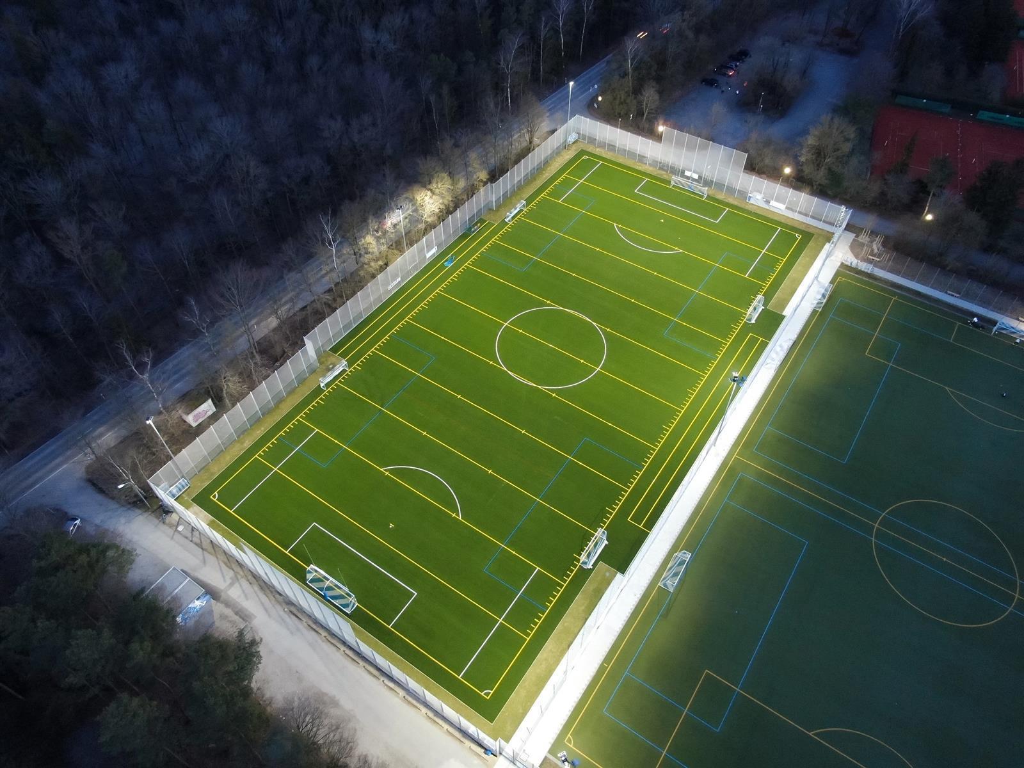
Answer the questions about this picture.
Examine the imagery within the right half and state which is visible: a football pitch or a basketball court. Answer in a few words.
football pitch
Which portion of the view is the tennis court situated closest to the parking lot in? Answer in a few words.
top right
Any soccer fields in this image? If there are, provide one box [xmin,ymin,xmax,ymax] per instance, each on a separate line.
[190,149,817,726]
[557,272,1024,768]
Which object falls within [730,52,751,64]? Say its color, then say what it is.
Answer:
black vehicle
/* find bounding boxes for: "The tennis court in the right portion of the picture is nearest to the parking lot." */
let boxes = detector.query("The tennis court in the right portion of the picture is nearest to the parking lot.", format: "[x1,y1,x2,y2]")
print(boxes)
[870,98,1024,206]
